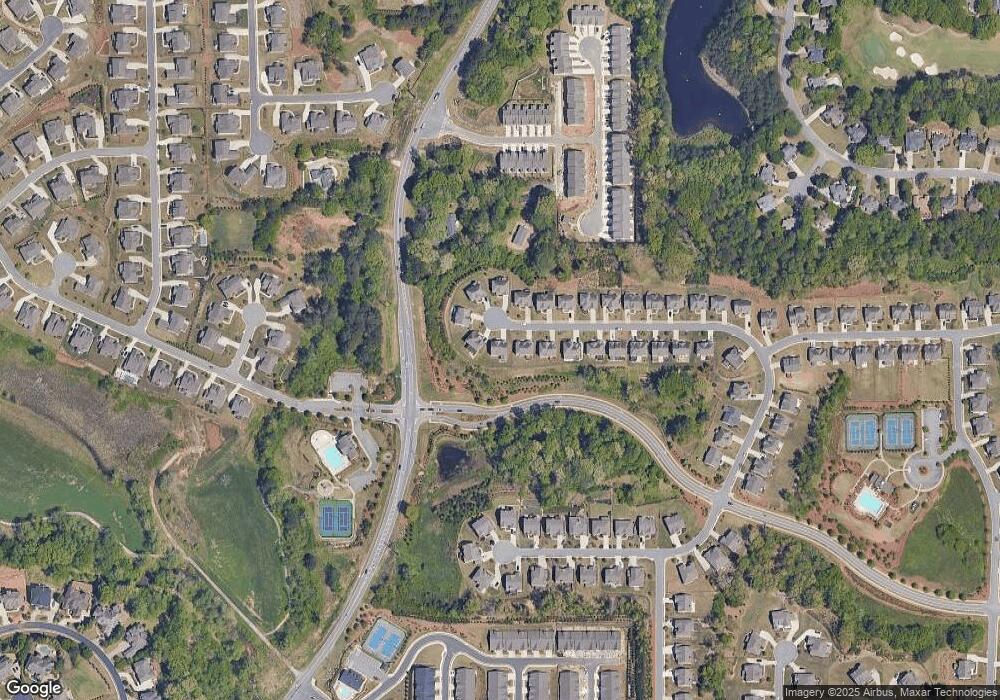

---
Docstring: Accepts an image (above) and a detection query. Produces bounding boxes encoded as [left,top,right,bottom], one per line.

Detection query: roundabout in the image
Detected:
[904,442,966,490]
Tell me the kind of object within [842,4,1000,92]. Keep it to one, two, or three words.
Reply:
golf course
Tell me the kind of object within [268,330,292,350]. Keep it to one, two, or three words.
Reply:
house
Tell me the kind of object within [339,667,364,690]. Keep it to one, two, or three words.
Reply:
building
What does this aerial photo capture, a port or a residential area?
residential area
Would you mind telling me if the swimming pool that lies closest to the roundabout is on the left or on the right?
right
